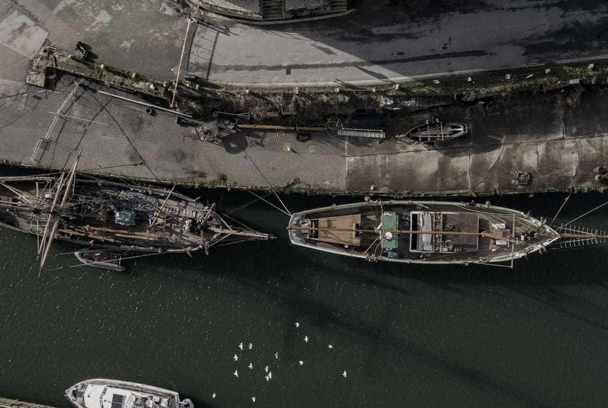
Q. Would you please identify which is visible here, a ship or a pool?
ship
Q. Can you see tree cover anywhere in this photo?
No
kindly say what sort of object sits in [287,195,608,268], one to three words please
ship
